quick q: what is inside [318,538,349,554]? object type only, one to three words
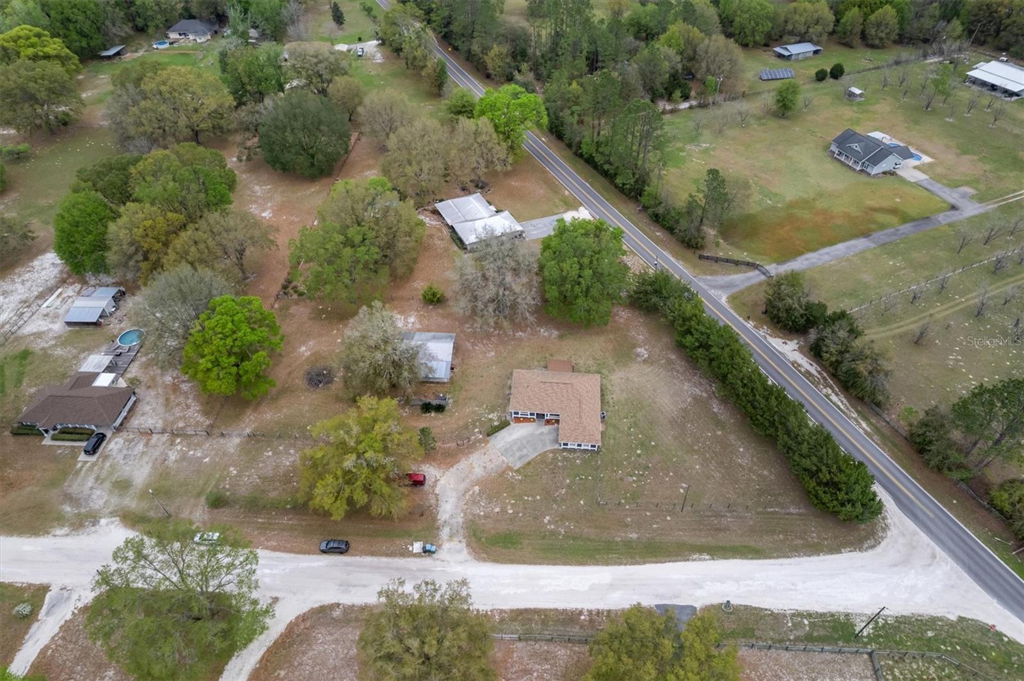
car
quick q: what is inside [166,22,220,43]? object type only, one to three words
house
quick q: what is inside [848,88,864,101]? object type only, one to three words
gazebo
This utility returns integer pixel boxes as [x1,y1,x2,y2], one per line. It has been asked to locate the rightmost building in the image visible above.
[963,58,1024,103]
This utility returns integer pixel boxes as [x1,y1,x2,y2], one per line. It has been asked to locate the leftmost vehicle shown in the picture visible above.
[80,433,107,456]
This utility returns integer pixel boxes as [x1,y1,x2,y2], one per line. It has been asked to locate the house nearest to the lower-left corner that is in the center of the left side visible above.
[18,367,140,436]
